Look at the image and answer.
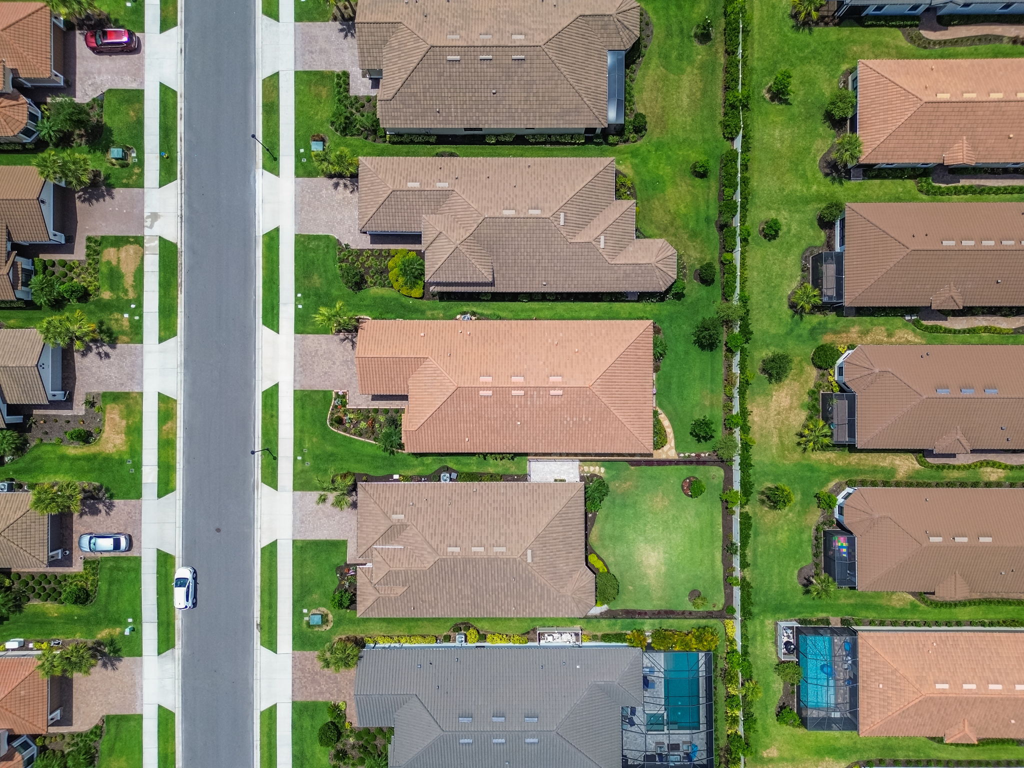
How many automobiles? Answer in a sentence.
Looking from above, you can make out 3 automobiles.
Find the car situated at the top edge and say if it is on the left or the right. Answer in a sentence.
You can find the car situated at the top edge on the left side of the picture.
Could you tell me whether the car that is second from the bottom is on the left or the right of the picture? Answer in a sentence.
You can find the car that is second from the bottom on the left side of the picture.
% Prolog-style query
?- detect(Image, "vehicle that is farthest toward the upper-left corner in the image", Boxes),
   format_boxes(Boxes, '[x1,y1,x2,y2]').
[86,27,135,53]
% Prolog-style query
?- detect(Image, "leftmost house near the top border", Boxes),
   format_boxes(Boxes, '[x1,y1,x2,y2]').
[0,1,65,140]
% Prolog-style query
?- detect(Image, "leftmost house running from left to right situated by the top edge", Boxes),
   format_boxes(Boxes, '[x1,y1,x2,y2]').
[355,0,641,135]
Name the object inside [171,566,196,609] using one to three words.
car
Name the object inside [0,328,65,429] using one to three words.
house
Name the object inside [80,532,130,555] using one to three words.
car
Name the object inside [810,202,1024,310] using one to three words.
house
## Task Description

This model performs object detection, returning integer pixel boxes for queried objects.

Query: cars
[80,532,130,555]
[171,566,196,609]
[86,27,135,53]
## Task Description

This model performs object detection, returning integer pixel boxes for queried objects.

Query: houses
[354,641,714,768]
[833,0,1024,21]
[823,487,1024,597]
[0,1,65,140]
[0,328,65,429]
[355,319,654,454]
[794,625,1024,745]
[0,653,62,768]
[810,202,1024,310]
[355,0,641,135]
[0,166,65,303]
[356,481,597,619]
[0,492,63,569]
[848,59,1024,172]
[820,344,1024,454]
[358,156,677,293]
